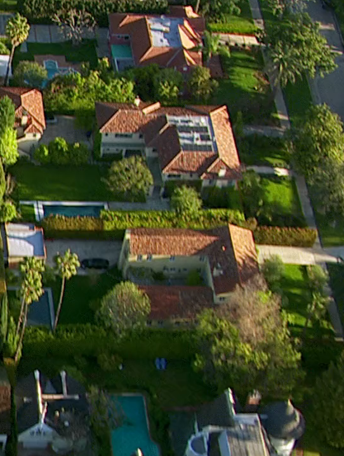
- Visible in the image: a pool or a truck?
pool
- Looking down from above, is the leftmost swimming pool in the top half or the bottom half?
bottom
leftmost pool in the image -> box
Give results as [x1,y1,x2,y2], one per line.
[25,287,56,332]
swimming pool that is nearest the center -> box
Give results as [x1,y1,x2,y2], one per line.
[40,202,106,218]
